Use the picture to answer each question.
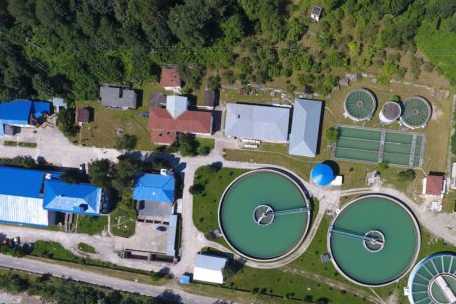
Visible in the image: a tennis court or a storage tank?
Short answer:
storage tank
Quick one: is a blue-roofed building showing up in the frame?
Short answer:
Yes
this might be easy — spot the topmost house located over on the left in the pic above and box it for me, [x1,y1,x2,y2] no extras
[162,69,181,89]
